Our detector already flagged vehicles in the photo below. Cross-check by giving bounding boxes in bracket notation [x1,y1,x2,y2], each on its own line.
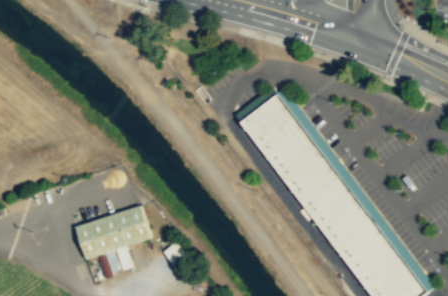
[34,194,42,206]
[80,208,87,219]
[328,134,340,144]
[345,52,358,59]
[350,159,360,168]
[317,120,327,129]
[313,114,324,124]
[324,22,335,28]
[94,206,101,216]
[106,200,114,213]
[45,191,53,204]
[288,16,298,22]
[404,176,417,191]
[298,35,308,40]
[331,140,341,148]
